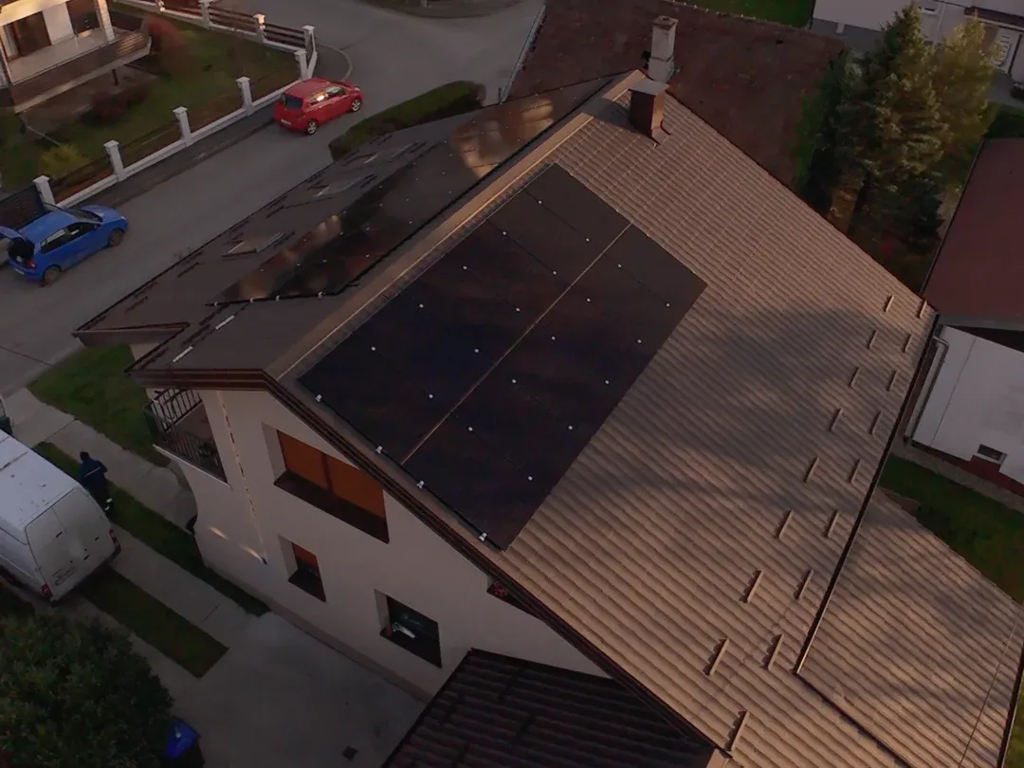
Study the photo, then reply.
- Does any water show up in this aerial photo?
No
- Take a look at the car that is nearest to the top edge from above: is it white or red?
red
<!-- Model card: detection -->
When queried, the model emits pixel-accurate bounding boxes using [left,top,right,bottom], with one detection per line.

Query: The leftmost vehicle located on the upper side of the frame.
[0,210,121,283]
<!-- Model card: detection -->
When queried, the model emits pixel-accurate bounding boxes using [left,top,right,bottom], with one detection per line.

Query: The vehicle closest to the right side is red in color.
[274,79,360,131]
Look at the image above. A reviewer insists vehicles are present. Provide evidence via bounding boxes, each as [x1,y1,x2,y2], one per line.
[0,442,128,604]
[274,79,360,131]
[0,210,121,283]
